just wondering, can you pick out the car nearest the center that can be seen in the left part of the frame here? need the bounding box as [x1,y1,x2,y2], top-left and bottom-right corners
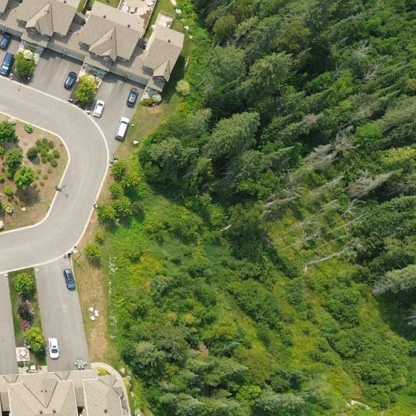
[114,118,130,140]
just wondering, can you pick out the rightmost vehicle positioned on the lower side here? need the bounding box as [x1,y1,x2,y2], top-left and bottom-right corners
[63,268,77,291]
